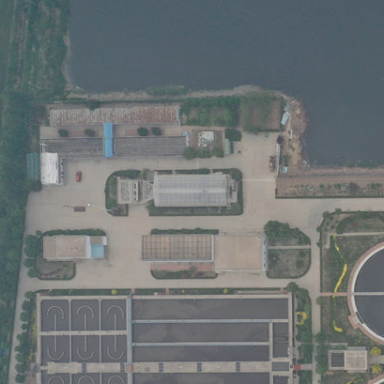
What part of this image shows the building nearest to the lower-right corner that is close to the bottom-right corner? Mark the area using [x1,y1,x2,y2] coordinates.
[329,347,369,371]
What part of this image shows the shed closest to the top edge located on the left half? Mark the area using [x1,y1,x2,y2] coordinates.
[50,106,183,125]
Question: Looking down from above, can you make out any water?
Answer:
Yes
